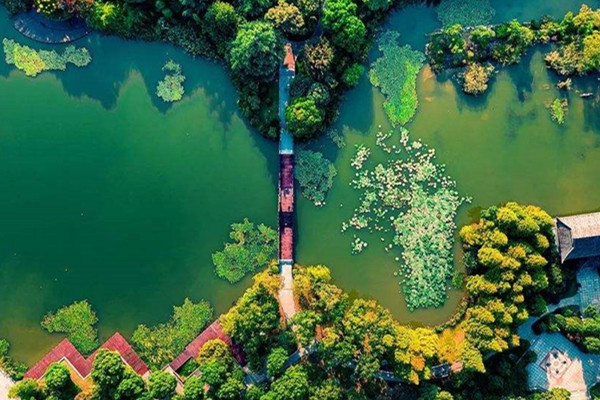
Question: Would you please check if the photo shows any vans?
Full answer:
No, no van is visible in the view.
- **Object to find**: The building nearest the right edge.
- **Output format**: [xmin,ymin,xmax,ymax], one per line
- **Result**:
[548,212,600,264]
